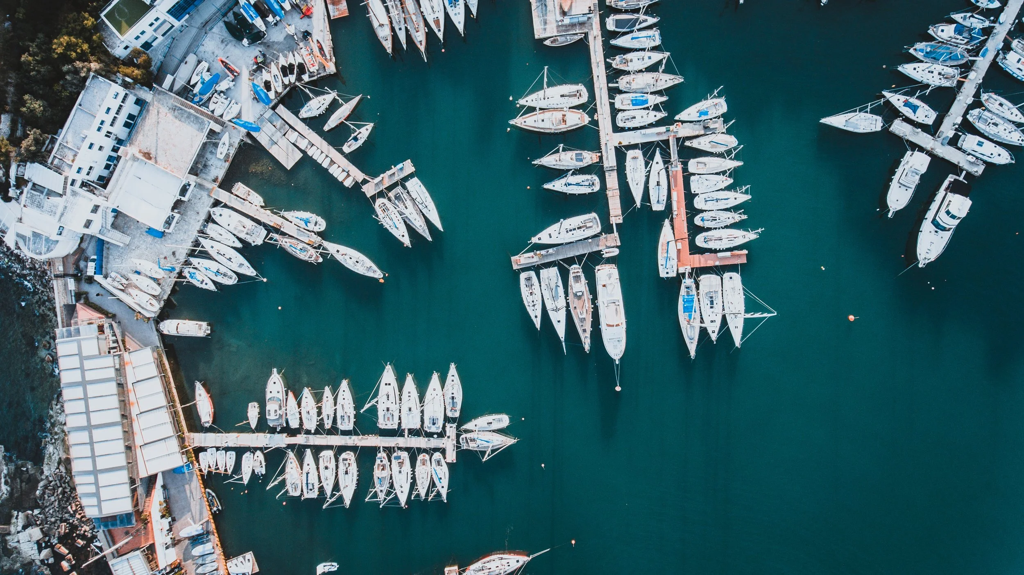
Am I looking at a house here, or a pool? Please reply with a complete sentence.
The image shows a house.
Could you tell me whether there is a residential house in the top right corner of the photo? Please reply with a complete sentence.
No, no residential house appears in the top right corner of the photo.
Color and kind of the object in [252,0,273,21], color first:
black boat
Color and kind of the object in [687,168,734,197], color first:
white boat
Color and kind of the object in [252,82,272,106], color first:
blue boat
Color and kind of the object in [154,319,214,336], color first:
white boat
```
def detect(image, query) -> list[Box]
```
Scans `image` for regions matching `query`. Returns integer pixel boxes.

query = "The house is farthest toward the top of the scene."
[99,0,185,61]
